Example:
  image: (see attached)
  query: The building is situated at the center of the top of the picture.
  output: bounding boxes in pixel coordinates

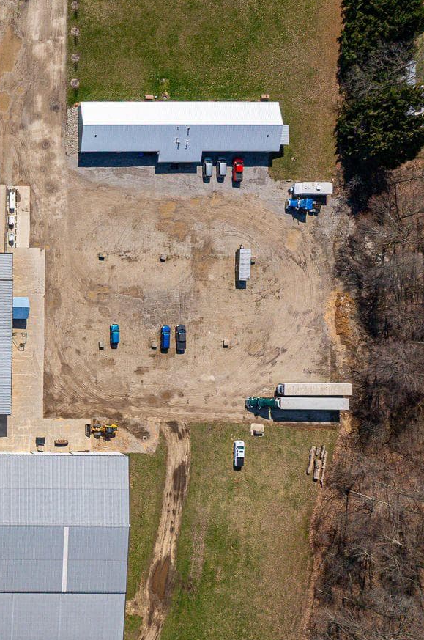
[77,101,287,164]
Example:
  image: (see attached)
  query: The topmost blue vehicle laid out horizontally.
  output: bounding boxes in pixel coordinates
[283,199,319,212]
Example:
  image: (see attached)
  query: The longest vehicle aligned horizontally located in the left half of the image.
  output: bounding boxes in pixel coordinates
[83,425,119,438]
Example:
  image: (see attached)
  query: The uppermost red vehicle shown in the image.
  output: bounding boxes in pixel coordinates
[230,156,243,182]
